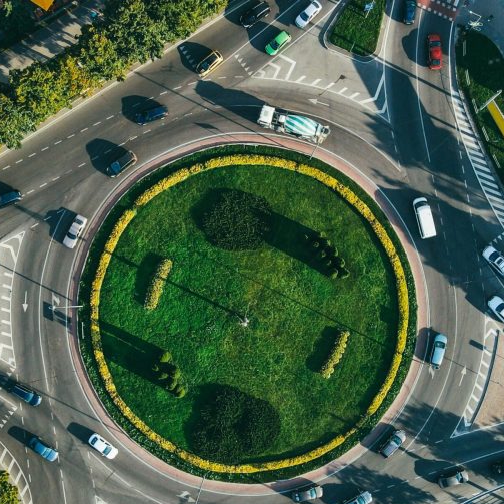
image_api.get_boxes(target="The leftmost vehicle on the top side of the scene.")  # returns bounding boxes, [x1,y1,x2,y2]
[0,190,24,212]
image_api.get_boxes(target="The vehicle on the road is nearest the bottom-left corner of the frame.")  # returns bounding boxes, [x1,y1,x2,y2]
[27,435,59,461]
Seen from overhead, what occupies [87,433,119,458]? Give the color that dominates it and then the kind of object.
white car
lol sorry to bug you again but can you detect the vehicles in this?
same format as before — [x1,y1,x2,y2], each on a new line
[486,295,504,324]
[481,245,504,277]
[263,29,293,59]
[428,332,448,368]
[87,433,119,458]
[106,150,138,179]
[239,0,272,30]
[294,0,323,32]
[401,0,419,27]
[63,215,89,249]
[0,190,24,212]
[413,196,438,239]
[9,382,44,407]
[425,35,444,72]
[292,484,323,501]
[194,49,223,78]
[340,489,373,504]
[253,101,329,142]
[135,105,168,128]
[378,429,406,458]
[27,435,59,461]
[437,469,468,488]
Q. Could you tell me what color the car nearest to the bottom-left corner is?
blue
